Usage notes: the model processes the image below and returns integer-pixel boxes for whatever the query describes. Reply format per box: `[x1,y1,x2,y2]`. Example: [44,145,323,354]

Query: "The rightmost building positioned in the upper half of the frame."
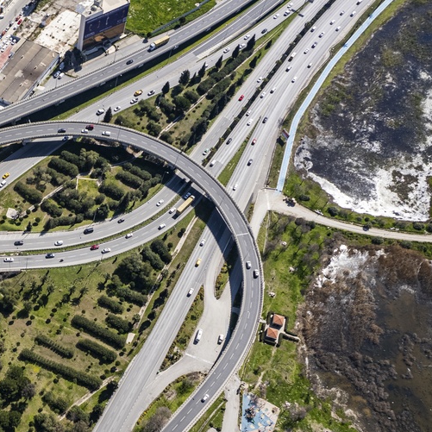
[62,0,129,51]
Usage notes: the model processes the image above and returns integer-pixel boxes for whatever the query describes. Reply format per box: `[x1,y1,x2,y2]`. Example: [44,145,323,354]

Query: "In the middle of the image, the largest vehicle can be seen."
[174,195,195,217]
